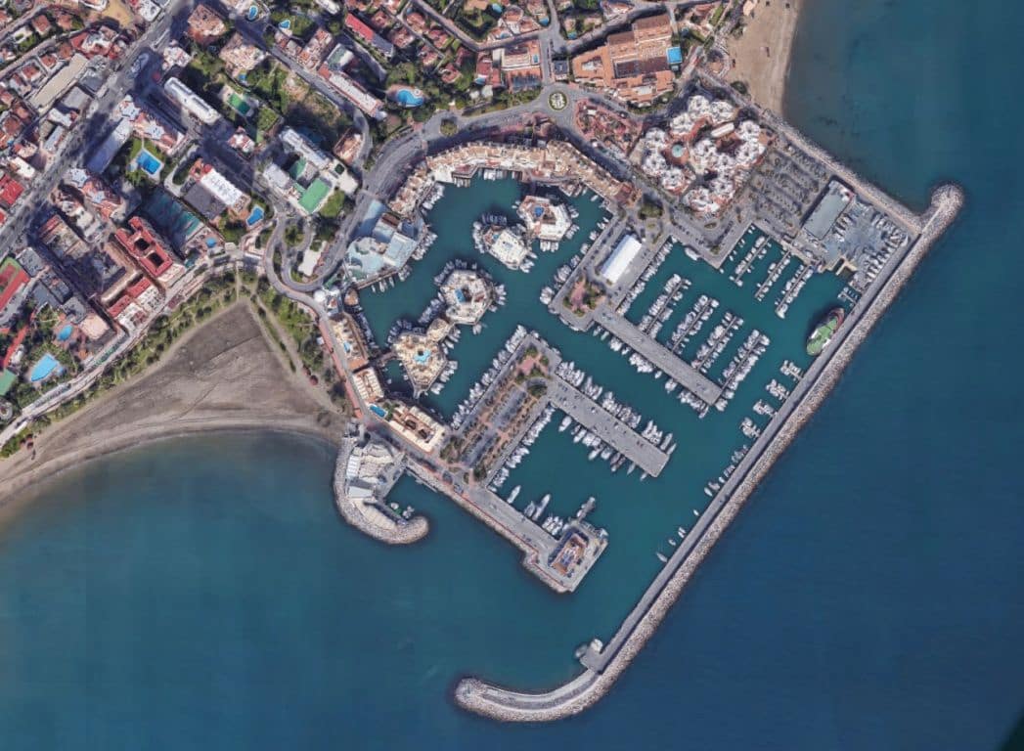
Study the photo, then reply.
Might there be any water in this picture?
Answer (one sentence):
Yes, water shows up in the scene.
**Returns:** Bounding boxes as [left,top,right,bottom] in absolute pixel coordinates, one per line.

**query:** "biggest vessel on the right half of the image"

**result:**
[810,310,844,354]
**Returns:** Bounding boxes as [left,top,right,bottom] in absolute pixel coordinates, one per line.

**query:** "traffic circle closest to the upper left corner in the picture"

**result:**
[434,112,464,142]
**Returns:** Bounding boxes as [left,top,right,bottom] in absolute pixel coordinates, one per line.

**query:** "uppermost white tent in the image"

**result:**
[600,235,644,284]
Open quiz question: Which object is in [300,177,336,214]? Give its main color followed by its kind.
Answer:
green sports court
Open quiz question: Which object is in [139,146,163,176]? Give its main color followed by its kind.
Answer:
blue swimming pool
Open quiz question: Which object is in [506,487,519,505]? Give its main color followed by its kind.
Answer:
white boat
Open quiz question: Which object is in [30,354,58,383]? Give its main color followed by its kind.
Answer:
blue swimming pool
